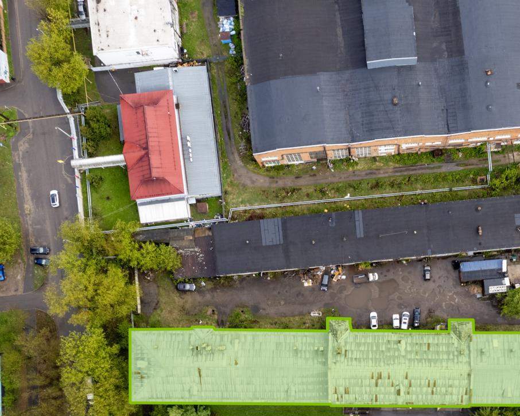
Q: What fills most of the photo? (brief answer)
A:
buildings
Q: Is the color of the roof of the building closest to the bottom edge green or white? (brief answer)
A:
green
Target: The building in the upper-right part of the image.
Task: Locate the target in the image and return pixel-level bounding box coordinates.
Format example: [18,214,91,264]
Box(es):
[243,0,520,169]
